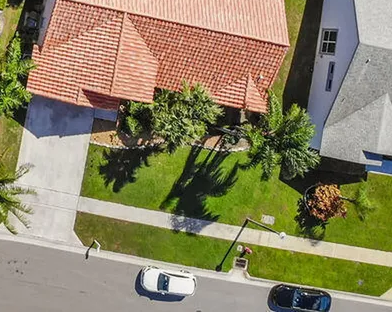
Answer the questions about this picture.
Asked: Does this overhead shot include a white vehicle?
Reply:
Yes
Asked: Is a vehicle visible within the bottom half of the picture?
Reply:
Yes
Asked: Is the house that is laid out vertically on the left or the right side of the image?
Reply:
right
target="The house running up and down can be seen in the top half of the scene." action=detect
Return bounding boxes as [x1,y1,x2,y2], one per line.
[309,0,392,171]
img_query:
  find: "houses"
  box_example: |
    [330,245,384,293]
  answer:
[309,0,392,171]
[25,0,290,113]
